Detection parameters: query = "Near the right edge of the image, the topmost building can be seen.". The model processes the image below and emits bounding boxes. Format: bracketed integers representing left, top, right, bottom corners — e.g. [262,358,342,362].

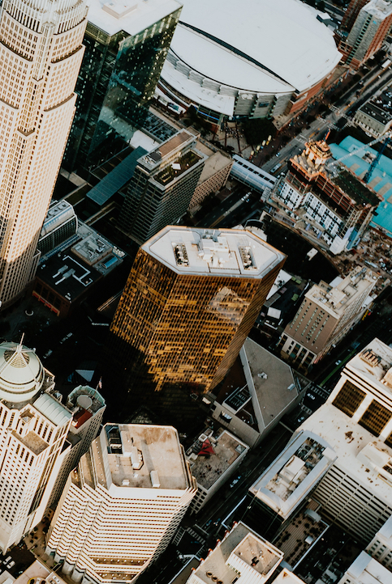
[332,0,392,92]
